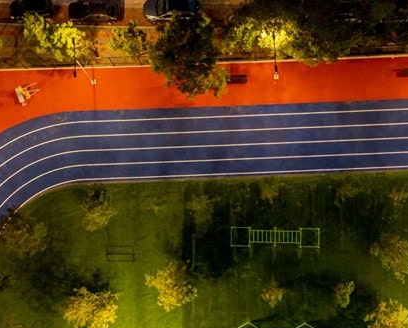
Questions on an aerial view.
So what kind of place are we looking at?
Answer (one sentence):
The picture captures a sports ground.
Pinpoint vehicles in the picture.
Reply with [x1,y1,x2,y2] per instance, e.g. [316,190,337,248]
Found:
[6,0,56,21]
[67,0,123,22]
[144,0,199,22]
